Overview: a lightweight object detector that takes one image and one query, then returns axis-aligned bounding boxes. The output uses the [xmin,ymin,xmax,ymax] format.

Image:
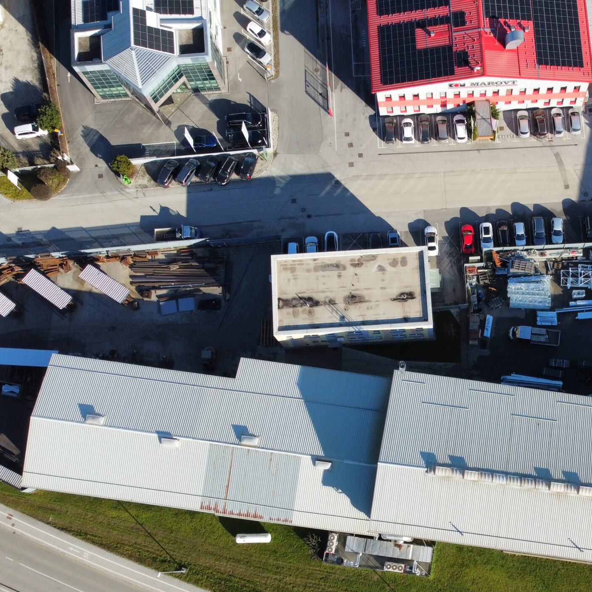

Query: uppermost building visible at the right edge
[367,0,592,115]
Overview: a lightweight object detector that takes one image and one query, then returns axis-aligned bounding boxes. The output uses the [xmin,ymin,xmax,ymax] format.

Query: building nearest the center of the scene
[269,246,443,348]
